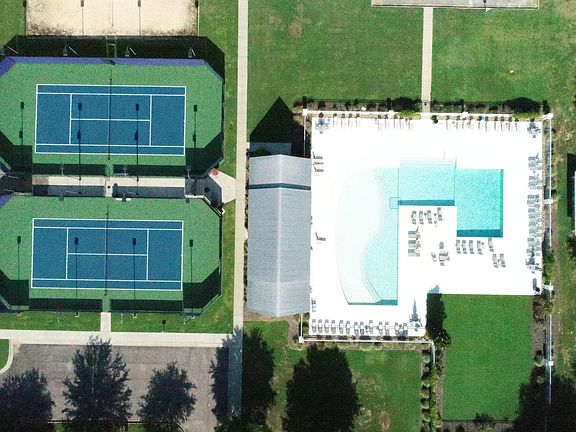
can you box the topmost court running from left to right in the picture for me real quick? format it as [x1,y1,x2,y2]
[25,0,199,38]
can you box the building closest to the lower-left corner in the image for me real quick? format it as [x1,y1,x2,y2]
[246,155,312,317]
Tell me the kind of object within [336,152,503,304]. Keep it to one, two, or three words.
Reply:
swimming pool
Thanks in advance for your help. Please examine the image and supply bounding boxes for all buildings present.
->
[246,155,312,317]
[567,170,576,230]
